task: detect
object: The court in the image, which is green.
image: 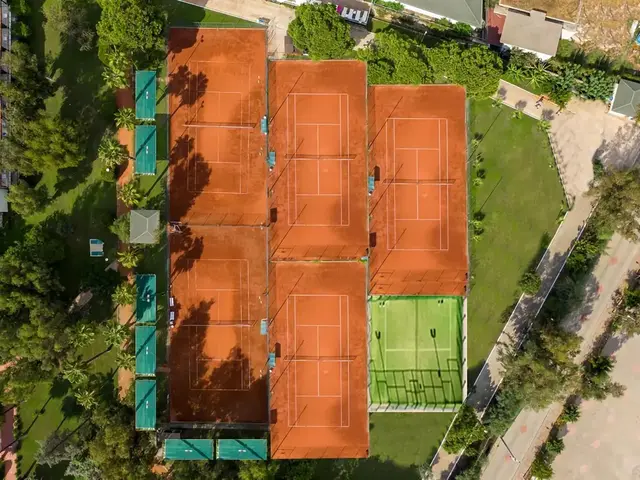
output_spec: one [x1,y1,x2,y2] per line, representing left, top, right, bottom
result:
[369,296,468,412]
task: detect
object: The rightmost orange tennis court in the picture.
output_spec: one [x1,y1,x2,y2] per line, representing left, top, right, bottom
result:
[368,85,468,295]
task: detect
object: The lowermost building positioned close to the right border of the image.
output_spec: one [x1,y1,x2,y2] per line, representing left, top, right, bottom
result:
[601,79,640,127]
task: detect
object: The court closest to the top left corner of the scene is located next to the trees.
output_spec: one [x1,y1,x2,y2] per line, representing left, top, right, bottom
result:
[168,28,268,225]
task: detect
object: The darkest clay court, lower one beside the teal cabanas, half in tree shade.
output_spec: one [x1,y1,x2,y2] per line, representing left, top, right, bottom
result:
[168,225,268,424]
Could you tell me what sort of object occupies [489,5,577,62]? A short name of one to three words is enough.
house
